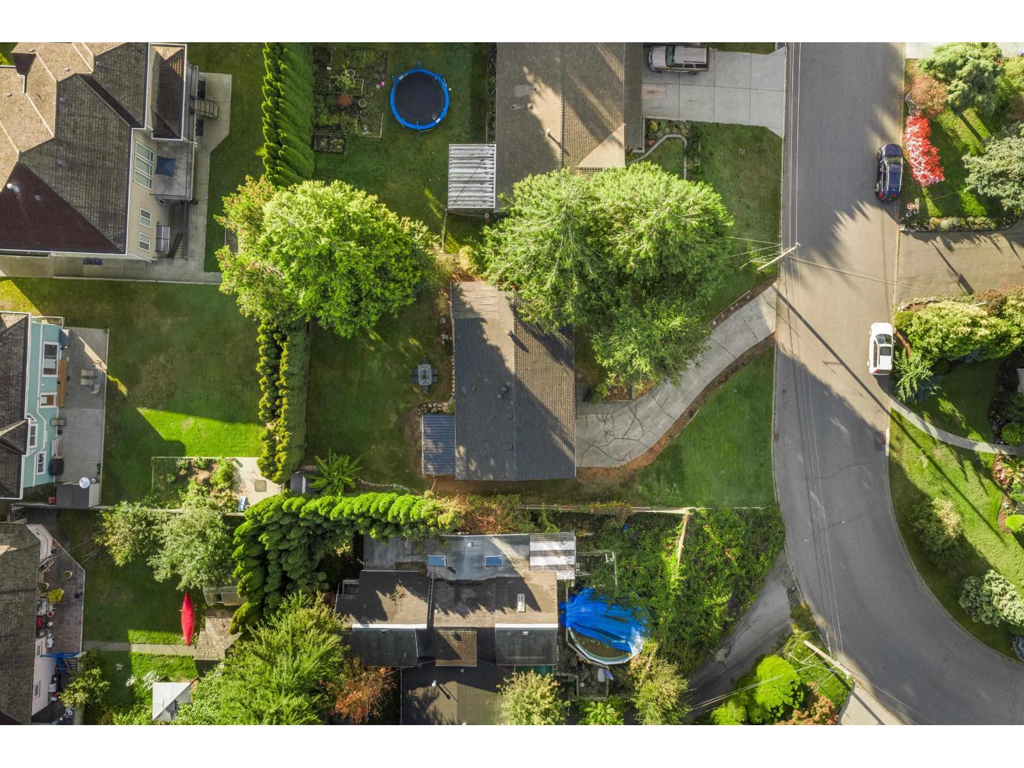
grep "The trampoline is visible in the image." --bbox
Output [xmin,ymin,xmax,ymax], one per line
[390,62,450,132]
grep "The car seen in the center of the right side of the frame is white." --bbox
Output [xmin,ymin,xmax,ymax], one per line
[867,322,897,376]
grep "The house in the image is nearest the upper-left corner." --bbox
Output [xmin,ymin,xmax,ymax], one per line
[0,19,218,259]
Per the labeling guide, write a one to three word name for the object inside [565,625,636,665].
swimming pool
